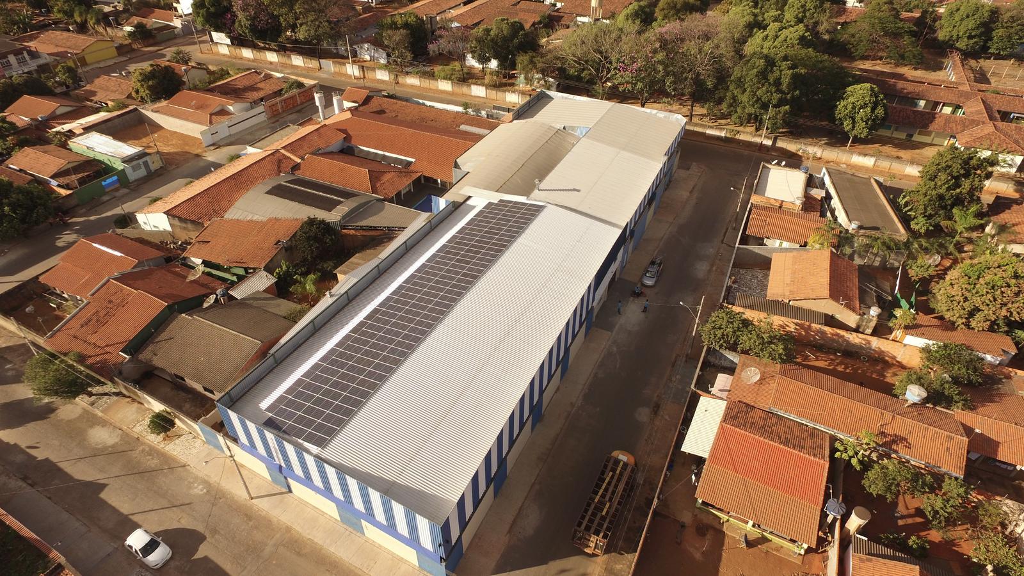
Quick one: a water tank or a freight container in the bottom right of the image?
water tank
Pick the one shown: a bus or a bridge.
bus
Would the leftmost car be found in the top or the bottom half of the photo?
bottom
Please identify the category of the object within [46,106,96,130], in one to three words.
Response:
house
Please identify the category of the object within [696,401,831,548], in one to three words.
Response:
house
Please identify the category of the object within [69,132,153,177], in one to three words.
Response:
building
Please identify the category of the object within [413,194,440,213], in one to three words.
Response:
swimming pool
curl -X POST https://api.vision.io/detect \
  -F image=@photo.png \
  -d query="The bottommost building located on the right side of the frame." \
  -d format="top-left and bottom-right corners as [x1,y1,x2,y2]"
[841,534,944,576]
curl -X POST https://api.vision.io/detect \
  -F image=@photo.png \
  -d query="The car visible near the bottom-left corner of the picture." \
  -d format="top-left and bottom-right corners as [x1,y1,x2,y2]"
[117,521,171,570]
